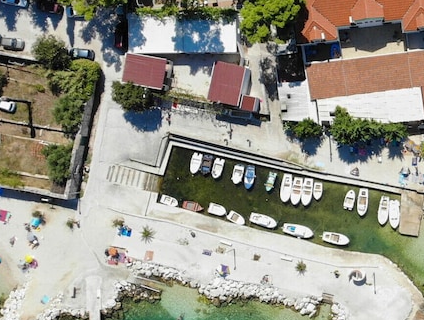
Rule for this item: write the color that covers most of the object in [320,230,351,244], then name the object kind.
white boat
